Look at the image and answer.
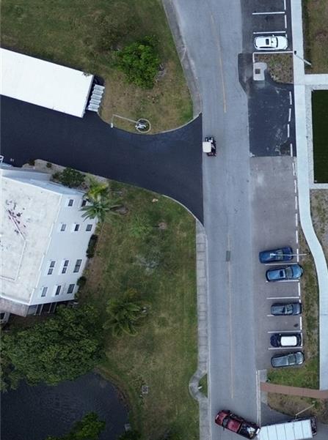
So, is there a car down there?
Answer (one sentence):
Yes, a car can be made out from above.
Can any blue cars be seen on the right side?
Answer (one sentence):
Yes, a blue car is visible on the right side.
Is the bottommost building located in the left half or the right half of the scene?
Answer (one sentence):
The bottommost building sits on the left side.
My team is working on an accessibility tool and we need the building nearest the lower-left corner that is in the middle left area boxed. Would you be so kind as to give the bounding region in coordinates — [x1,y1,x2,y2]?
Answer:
[0,166,104,314]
